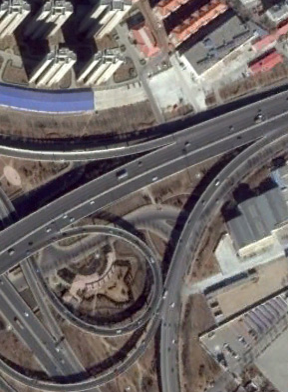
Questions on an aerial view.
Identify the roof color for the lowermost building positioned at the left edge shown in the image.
blue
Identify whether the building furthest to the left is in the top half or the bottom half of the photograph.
top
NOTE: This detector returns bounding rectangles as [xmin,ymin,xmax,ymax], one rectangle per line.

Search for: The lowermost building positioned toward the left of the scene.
[0,84,94,114]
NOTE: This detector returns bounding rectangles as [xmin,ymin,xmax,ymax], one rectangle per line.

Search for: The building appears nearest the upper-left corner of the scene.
[0,0,30,40]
